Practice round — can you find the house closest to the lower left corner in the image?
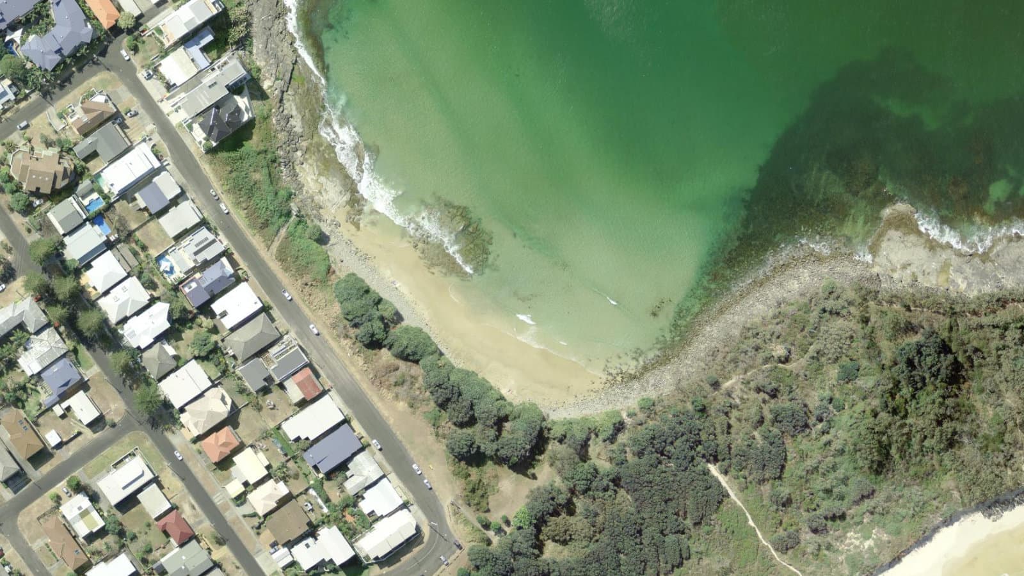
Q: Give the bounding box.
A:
[40,516,86,571]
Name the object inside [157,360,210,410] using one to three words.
house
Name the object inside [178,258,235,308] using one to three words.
house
